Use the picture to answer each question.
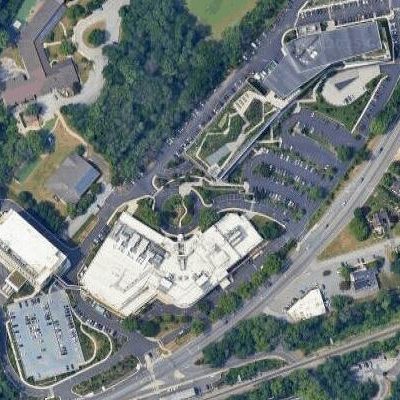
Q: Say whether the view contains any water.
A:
No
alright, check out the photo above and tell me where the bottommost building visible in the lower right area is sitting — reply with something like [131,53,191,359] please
[287,289,326,323]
